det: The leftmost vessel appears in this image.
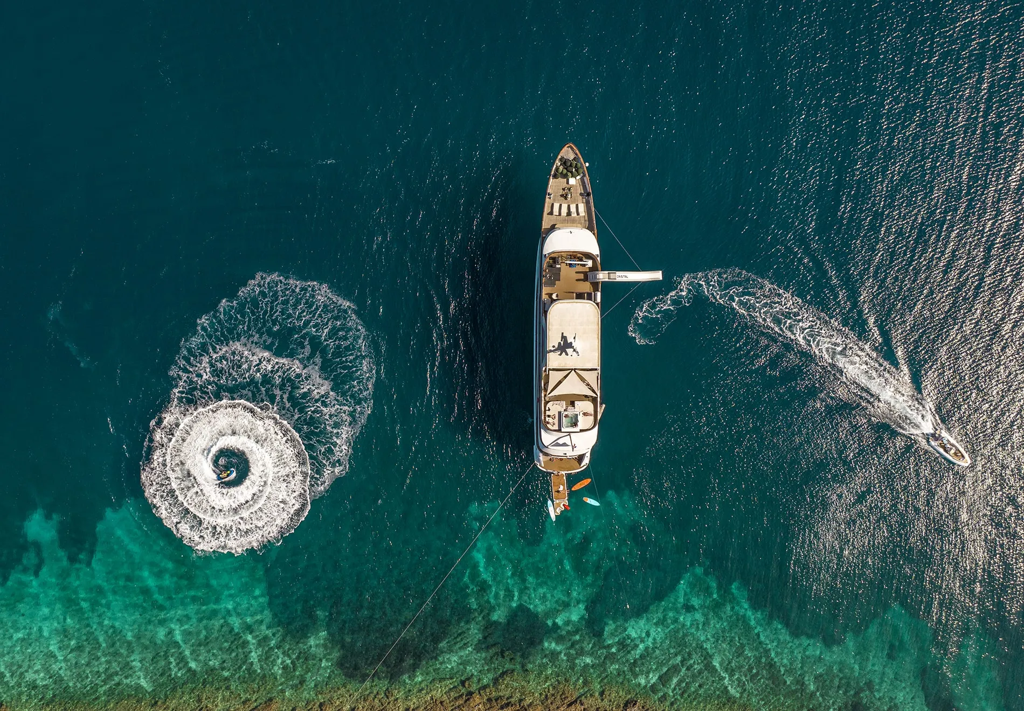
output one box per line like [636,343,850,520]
[216,468,236,481]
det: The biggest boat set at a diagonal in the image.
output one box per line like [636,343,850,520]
[924,428,969,466]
